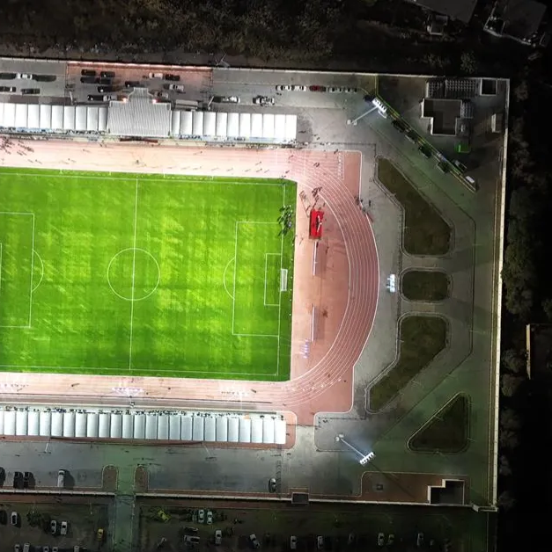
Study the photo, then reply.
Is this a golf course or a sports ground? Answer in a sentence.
It's a sports ground.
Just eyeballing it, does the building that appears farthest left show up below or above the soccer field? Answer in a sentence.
From this view, the building that appears farthest left can be seen above the soccer field.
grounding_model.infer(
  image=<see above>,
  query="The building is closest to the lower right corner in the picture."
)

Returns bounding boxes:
[423,478,464,506]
